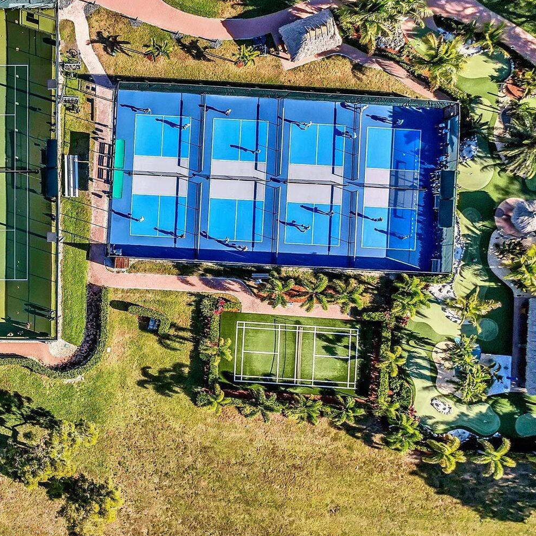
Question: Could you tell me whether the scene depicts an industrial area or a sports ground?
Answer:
sports ground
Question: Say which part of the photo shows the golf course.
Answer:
right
